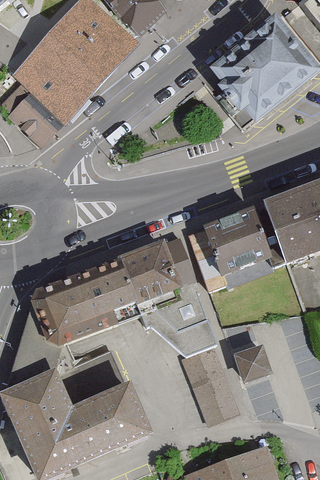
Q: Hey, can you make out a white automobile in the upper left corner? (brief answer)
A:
Yes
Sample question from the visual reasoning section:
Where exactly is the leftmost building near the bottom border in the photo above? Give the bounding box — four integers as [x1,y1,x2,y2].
[0,368,154,480]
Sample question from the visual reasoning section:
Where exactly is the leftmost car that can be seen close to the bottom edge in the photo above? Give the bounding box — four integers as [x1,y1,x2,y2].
[289,461,304,480]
